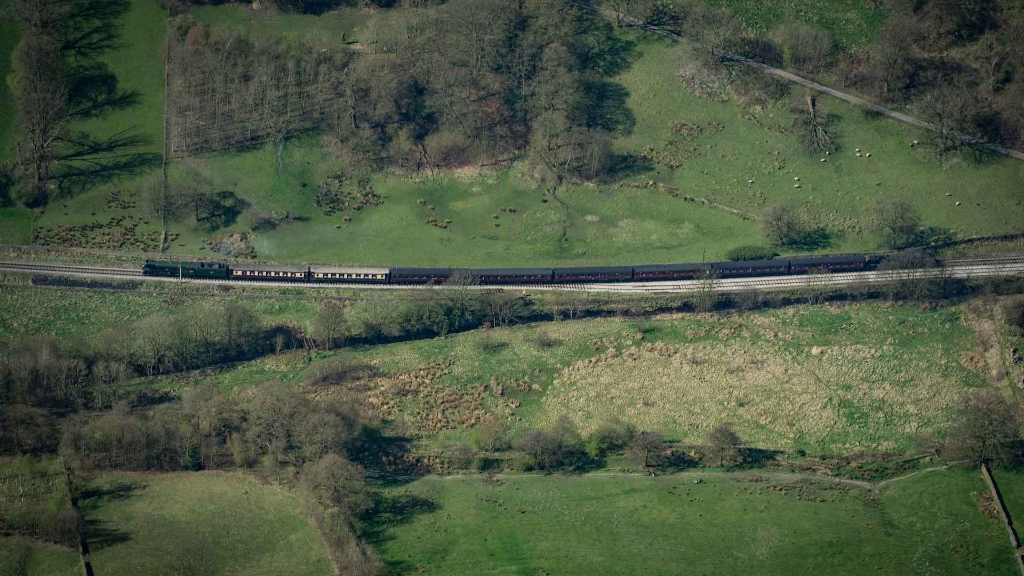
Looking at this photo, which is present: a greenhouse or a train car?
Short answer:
train car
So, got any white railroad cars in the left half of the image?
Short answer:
Yes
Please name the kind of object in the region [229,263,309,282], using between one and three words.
rail car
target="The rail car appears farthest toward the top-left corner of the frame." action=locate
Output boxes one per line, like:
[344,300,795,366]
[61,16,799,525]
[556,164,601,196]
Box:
[142,259,198,277]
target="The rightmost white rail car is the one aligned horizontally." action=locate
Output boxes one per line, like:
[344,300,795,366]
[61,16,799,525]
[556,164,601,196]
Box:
[310,267,391,284]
